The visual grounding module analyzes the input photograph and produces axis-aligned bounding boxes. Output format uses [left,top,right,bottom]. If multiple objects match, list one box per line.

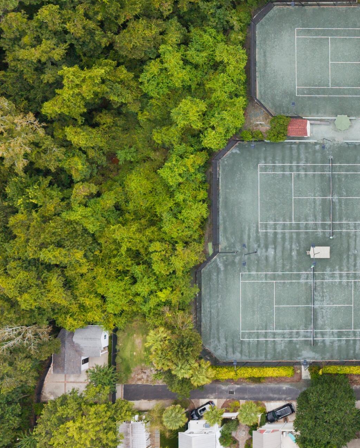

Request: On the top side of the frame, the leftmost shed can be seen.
[288,119,313,136]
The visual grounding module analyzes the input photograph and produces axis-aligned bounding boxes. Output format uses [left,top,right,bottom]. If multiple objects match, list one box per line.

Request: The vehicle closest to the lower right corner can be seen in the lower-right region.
[265,402,297,421]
